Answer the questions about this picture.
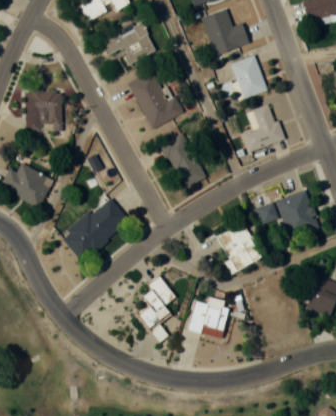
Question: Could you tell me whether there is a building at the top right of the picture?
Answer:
Yes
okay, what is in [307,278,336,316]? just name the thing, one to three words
house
